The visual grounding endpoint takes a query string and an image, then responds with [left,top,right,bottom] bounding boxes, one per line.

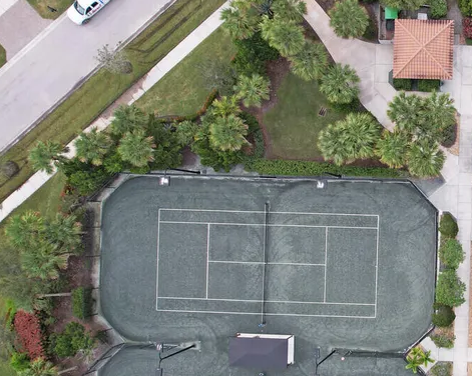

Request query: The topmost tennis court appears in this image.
[100,177,436,354]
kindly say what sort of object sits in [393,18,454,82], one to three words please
building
